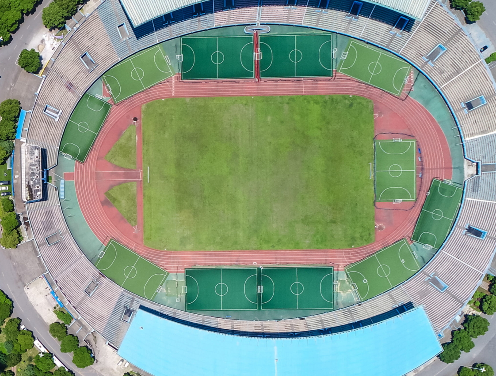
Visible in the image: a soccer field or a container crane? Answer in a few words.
soccer field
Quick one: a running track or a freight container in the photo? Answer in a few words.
running track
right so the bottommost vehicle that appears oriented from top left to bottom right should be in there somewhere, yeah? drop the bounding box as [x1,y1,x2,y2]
[52,354,70,370]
